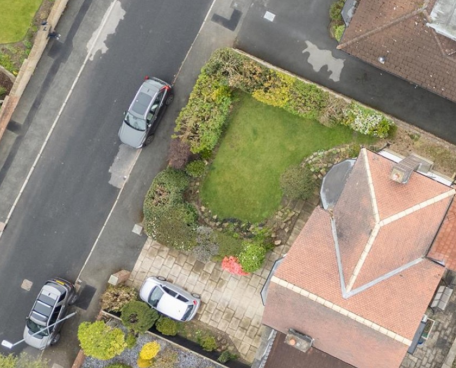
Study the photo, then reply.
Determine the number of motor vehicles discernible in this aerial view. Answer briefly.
3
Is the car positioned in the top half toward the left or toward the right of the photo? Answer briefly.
left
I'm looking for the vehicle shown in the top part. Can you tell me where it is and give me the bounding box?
[110,73,171,152]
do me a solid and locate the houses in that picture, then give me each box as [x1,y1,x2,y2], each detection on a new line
[260,147,456,368]
[337,0,456,101]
